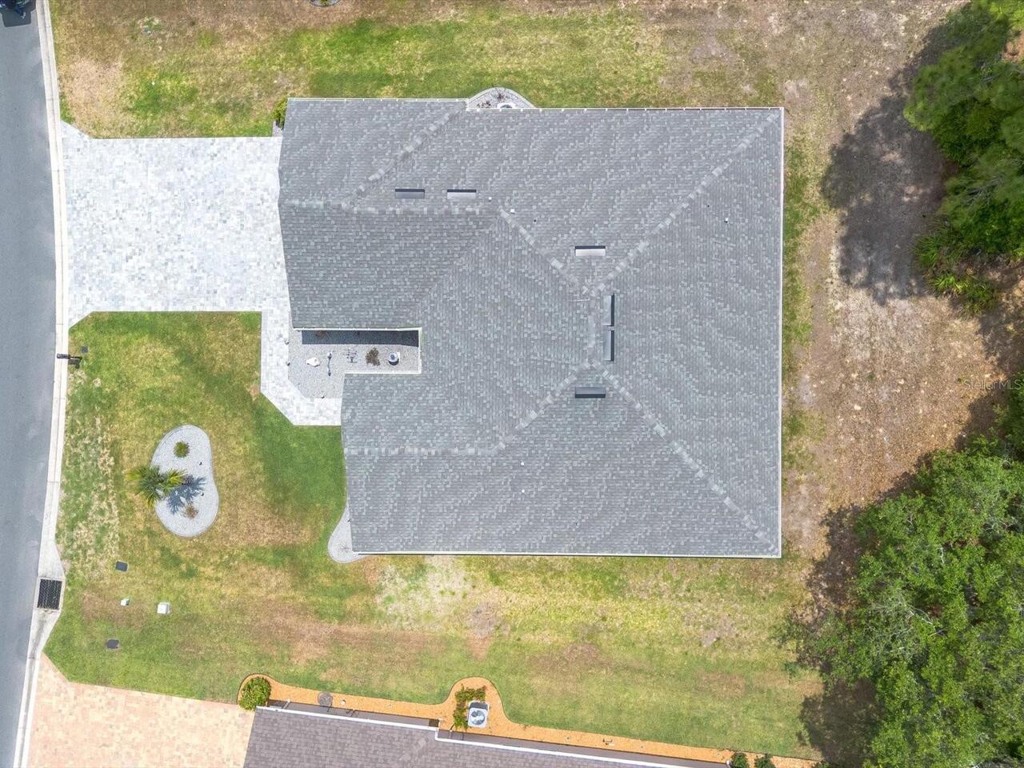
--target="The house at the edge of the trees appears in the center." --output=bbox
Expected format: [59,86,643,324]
[273,95,786,560]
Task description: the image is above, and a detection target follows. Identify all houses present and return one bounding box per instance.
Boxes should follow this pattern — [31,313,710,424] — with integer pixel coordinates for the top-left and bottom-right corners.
[242,697,731,768]
[273,95,786,560]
